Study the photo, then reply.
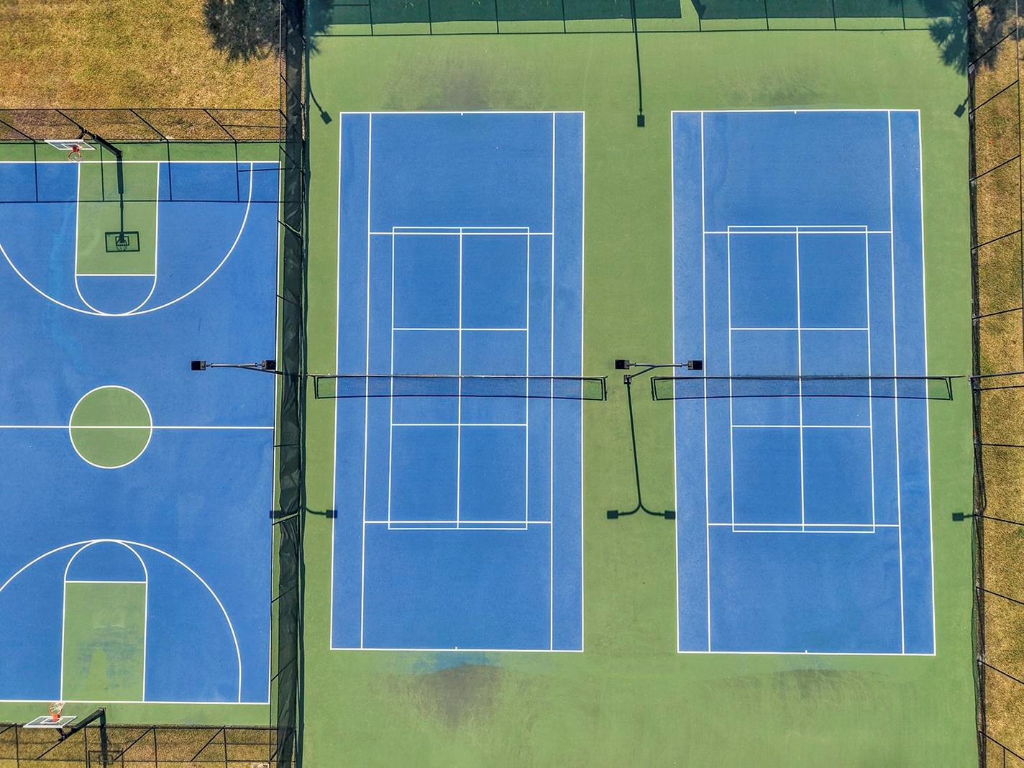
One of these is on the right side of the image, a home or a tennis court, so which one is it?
tennis court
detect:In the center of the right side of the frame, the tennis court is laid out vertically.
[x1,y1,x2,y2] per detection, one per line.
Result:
[672,111,935,654]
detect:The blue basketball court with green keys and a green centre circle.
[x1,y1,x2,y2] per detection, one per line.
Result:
[0,161,281,705]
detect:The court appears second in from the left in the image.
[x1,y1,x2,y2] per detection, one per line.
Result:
[331,113,584,652]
